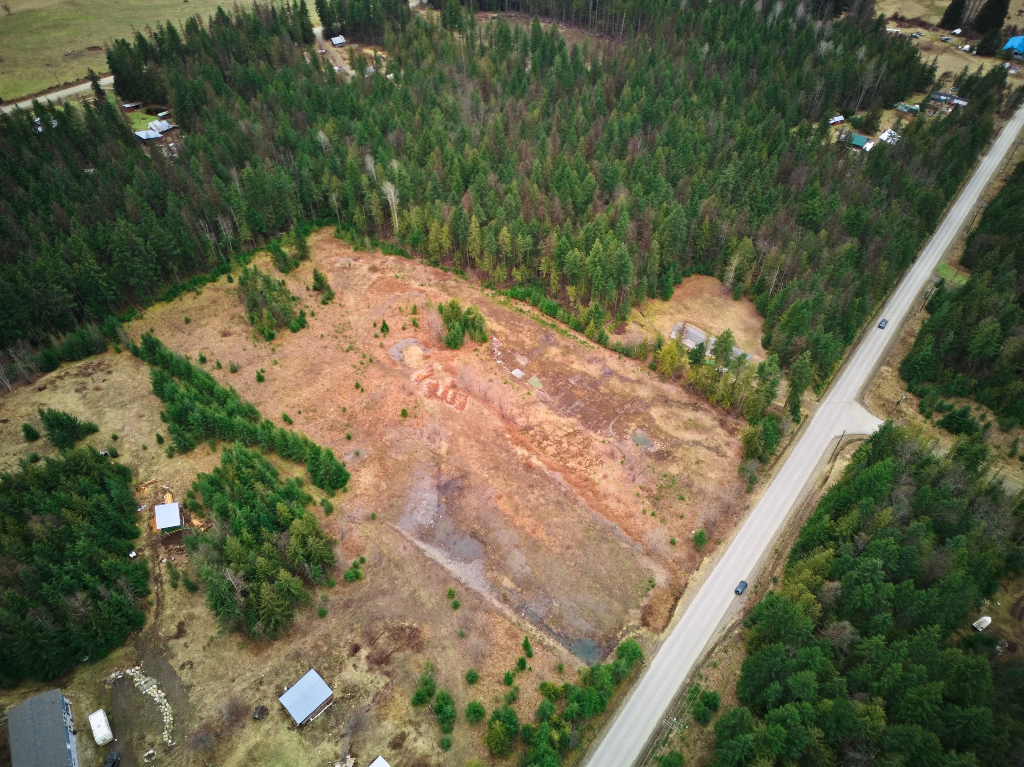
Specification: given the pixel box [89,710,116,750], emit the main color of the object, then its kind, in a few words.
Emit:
white trailer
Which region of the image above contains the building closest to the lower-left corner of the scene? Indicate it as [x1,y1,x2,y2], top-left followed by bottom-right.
[7,689,84,767]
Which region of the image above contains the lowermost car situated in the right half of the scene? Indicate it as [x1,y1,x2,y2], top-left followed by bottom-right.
[733,578,750,598]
